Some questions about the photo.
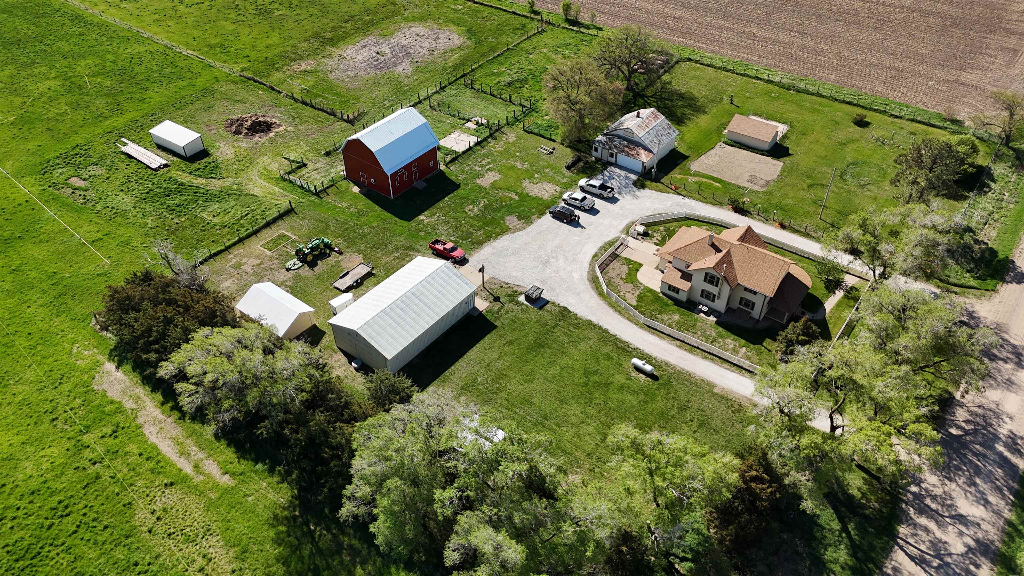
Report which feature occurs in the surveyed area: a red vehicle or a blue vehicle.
red vehicle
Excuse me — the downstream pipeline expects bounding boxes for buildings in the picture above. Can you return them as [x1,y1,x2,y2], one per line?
[655,224,812,324]
[727,113,782,148]
[236,284,316,347]
[591,107,680,174]
[337,106,442,198]
[329,259,478,368]
[152,120,205,157]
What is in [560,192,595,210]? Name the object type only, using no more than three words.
vehicle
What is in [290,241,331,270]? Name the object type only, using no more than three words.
work vehicle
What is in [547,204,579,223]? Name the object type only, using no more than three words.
car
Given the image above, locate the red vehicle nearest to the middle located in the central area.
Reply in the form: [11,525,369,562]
[428,239,466,262]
